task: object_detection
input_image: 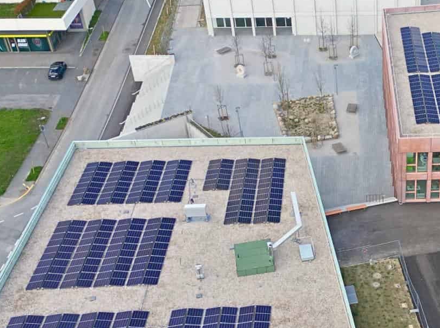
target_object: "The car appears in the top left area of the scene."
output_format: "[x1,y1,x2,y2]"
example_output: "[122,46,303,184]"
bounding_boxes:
[48,60,67,79]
